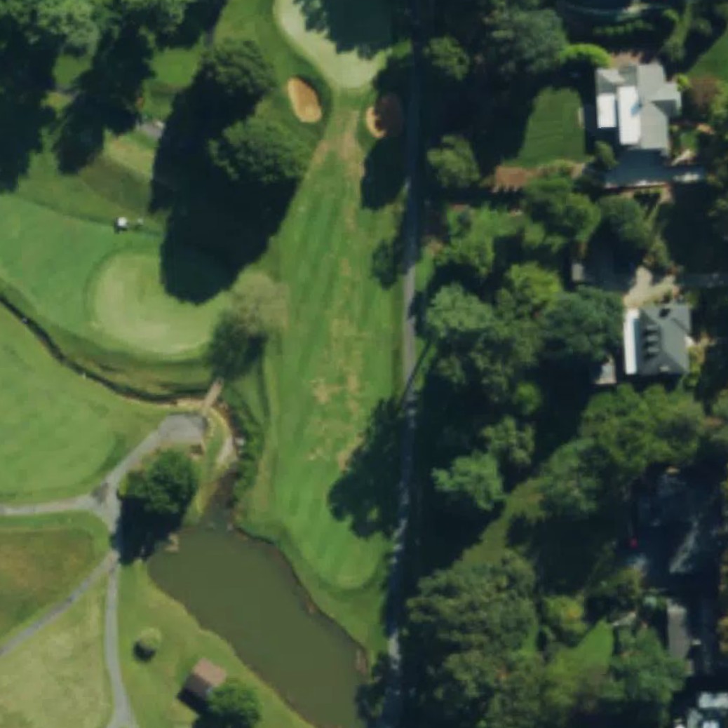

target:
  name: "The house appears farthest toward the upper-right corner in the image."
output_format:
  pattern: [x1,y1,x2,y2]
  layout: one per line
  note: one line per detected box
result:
[596,62,683,150]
